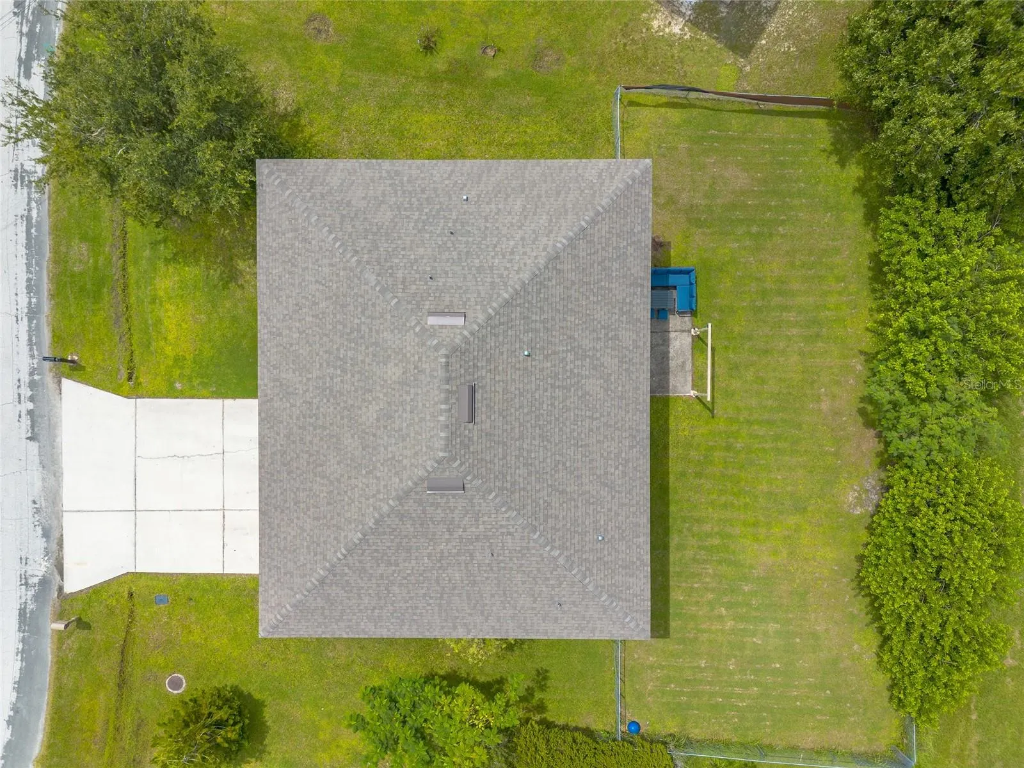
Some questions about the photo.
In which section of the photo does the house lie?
center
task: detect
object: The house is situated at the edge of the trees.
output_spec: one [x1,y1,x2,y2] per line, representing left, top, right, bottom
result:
[255,158,653,640]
